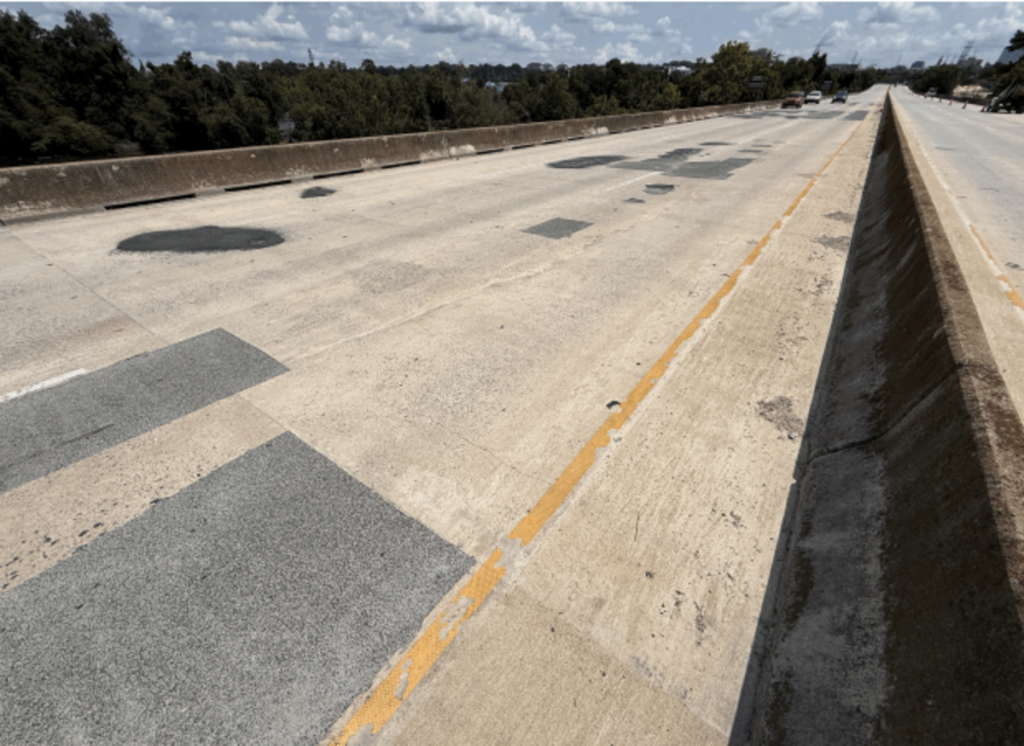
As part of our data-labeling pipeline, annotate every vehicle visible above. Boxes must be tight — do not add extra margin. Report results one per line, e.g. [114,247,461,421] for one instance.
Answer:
[807,90,824,102]
[923,88,937,96]
[784,89,808,107]
[984,70,1024,112]
[833,90,850,102]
